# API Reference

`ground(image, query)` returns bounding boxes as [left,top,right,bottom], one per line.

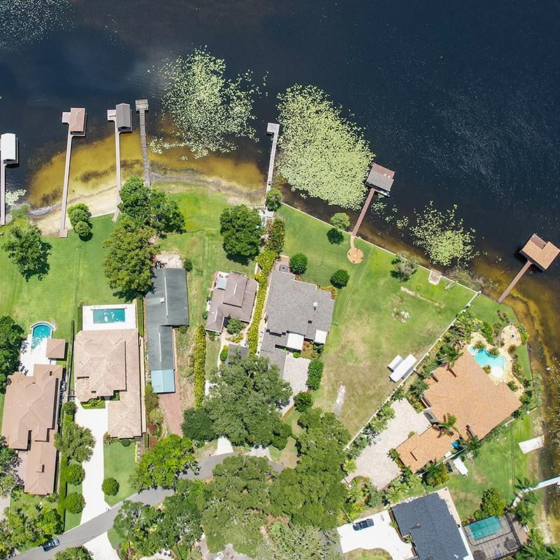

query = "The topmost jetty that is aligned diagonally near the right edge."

[498,233,560,304]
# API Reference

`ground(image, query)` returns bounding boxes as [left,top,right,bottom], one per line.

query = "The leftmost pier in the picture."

[0,133,20,223]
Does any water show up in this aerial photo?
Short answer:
Yes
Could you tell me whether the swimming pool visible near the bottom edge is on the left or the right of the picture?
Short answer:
right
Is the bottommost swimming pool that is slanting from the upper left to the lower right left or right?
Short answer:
right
